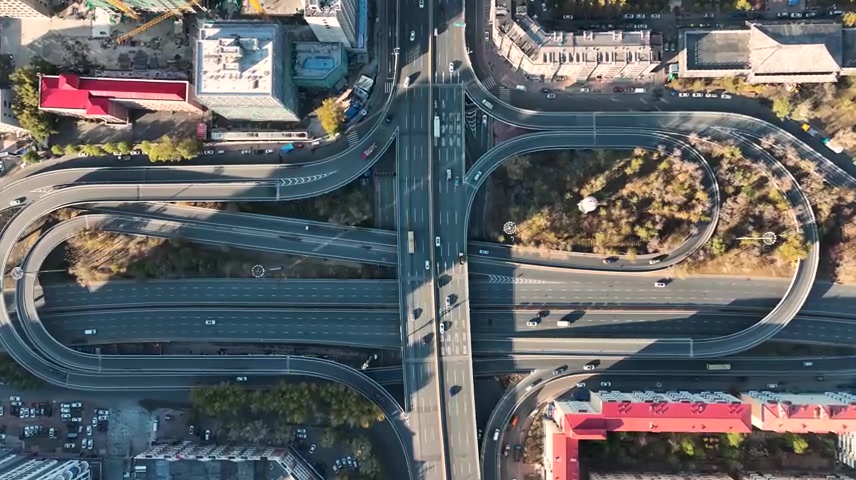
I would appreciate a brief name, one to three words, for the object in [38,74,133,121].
building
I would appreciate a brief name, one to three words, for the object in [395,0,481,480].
overpass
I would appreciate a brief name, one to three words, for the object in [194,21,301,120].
building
